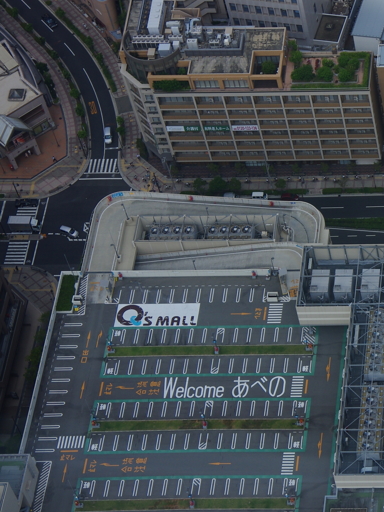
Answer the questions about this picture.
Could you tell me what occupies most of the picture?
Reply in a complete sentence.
The scene is dominated by buildings.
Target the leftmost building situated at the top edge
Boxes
[0,21,61,169]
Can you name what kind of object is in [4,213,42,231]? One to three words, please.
vehicle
